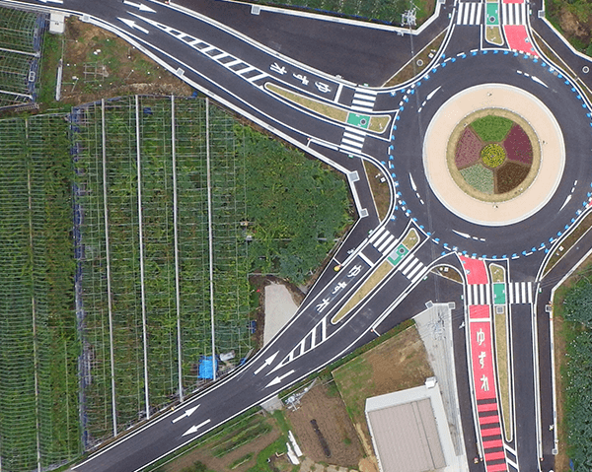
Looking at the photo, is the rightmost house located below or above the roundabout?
below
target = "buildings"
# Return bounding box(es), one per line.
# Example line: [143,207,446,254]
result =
[367,376,460,472]
[49,10,69,34]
